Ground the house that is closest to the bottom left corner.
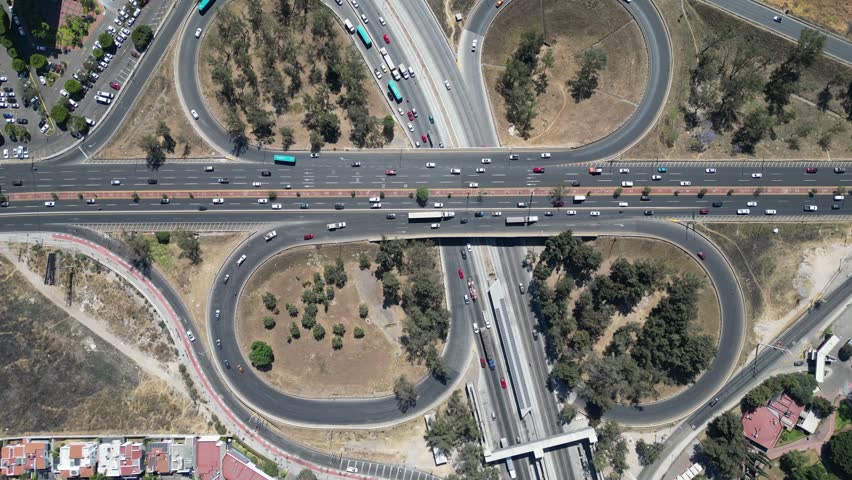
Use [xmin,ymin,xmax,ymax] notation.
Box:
[0,440,33,475]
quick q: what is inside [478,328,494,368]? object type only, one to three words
vehicle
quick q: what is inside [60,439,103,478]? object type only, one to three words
house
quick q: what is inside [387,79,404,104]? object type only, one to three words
vehicle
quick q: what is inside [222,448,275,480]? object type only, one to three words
shed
